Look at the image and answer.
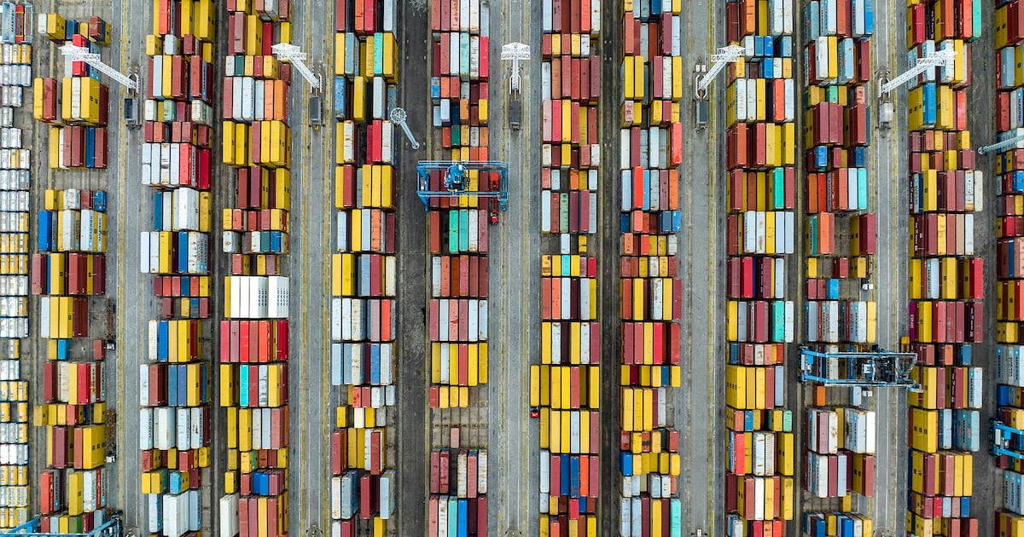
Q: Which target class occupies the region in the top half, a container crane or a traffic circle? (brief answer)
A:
container crane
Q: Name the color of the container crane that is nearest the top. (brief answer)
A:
blue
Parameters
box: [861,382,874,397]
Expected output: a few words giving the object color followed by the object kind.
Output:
white vehicle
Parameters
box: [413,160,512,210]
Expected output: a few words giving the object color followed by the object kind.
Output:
blue container crane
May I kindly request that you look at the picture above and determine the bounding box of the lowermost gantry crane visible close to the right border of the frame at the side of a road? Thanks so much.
[992,421,1024,462]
